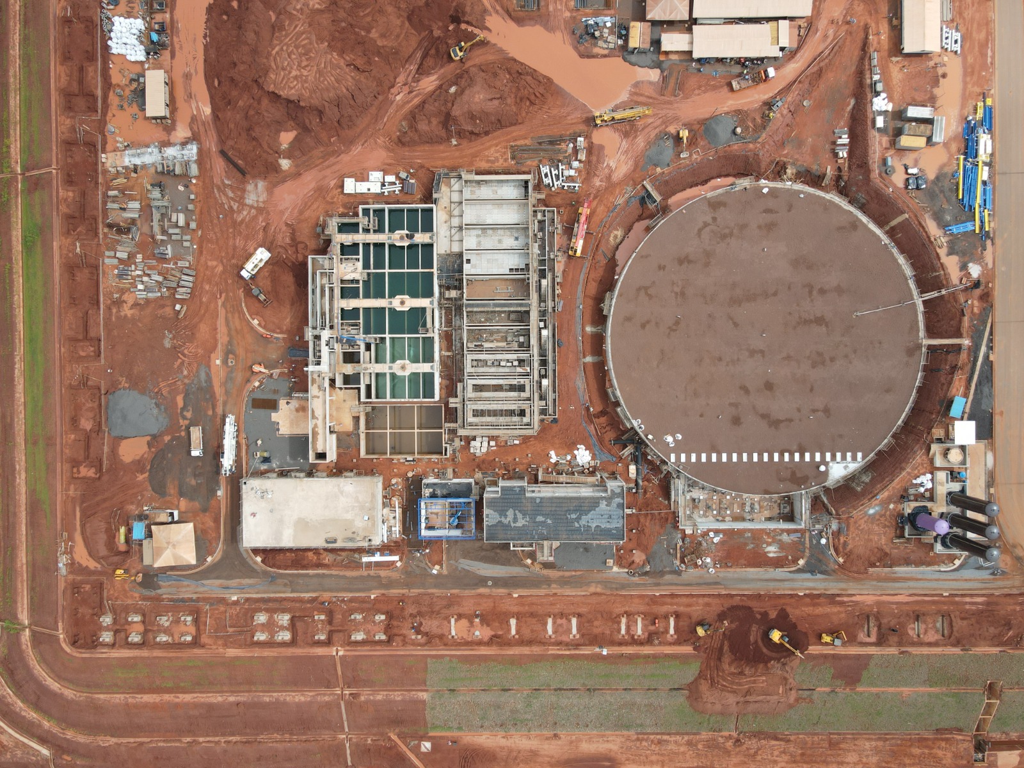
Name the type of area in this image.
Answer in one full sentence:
The picture captures an industrial area.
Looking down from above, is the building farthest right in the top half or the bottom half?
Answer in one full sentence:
The building farthest right sits in the top half of the picture.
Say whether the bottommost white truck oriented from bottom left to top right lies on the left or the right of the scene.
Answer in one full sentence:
The bottommost white truck oriented from bottom left to top right is on the left side of the image.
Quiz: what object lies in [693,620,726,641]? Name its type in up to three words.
work vehicle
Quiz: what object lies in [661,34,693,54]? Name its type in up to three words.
shed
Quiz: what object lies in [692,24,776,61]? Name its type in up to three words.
building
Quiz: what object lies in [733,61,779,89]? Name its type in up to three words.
truck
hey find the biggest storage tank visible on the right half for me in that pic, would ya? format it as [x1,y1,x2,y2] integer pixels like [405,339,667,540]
[603,178,928,497]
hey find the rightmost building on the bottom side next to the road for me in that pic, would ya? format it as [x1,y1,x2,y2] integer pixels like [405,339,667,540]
[484,473,629,562]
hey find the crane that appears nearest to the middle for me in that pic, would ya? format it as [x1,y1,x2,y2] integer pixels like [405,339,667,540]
[563,196,598,256]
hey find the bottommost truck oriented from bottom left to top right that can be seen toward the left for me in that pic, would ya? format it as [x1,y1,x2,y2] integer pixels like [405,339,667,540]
[235,244,271,280]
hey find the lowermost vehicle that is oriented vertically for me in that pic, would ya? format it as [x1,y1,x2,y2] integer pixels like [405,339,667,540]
[186,426,202,458]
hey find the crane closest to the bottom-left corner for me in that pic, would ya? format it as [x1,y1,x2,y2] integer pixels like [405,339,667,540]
[216,414,237,475]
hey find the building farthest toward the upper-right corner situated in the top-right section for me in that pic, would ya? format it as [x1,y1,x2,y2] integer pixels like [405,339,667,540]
[897,0,941,56]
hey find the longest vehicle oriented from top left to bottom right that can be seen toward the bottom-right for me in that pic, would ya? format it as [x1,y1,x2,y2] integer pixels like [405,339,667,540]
[771,630,810,664]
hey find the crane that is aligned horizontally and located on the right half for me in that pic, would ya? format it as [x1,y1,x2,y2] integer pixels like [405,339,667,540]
[594,104,656,125]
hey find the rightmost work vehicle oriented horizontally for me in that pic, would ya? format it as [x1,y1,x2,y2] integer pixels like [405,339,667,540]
[821,634,843,646]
